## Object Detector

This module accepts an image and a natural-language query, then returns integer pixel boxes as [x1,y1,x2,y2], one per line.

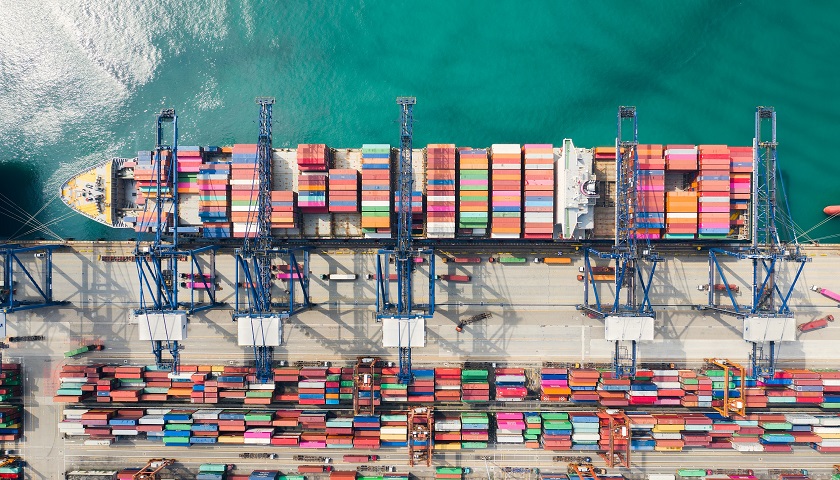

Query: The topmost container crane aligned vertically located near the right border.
[690,106,813,378]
